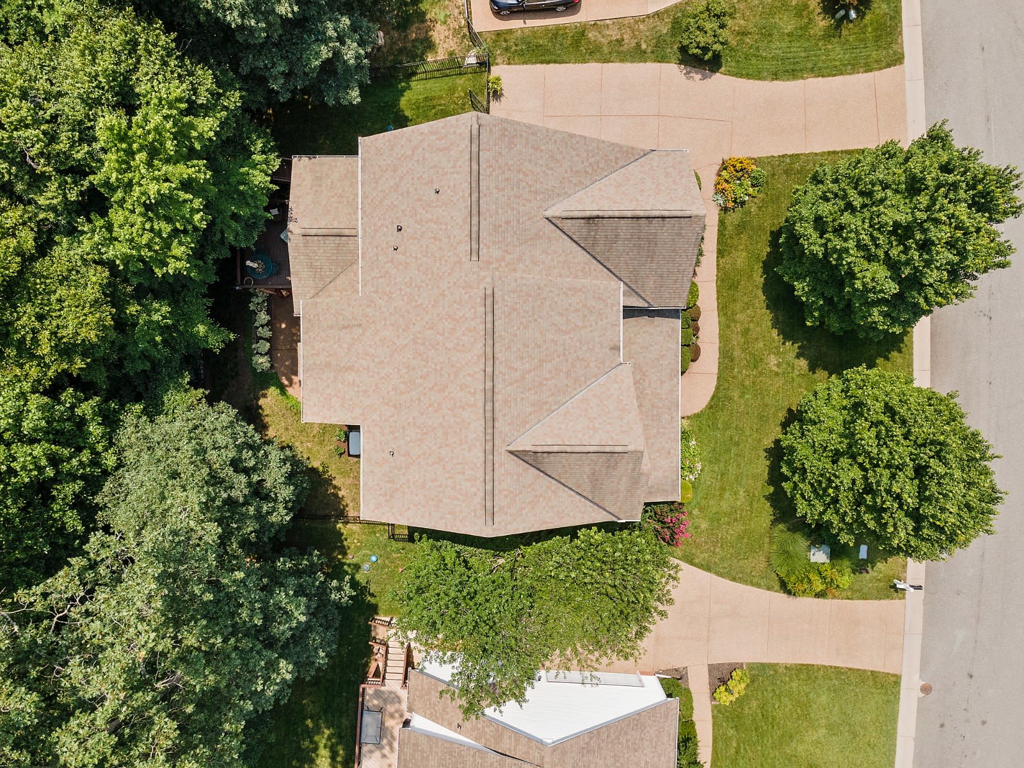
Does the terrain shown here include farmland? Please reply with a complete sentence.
No, no farmland is visible.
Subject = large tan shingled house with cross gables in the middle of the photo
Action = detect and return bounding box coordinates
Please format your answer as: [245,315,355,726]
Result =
[284,112,706,534]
